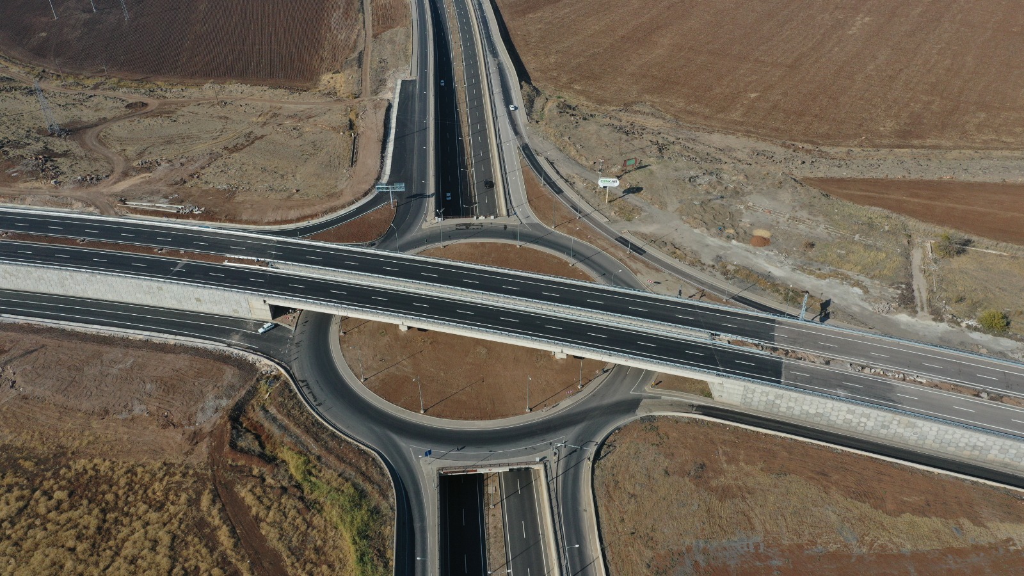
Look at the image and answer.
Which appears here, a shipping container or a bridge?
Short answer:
bridge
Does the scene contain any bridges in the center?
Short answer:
Yes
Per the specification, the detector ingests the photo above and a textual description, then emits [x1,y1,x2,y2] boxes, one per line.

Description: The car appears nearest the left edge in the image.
[256,322,275,334]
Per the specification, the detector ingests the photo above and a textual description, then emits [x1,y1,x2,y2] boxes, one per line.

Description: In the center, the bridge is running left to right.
[226,262,760,409]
